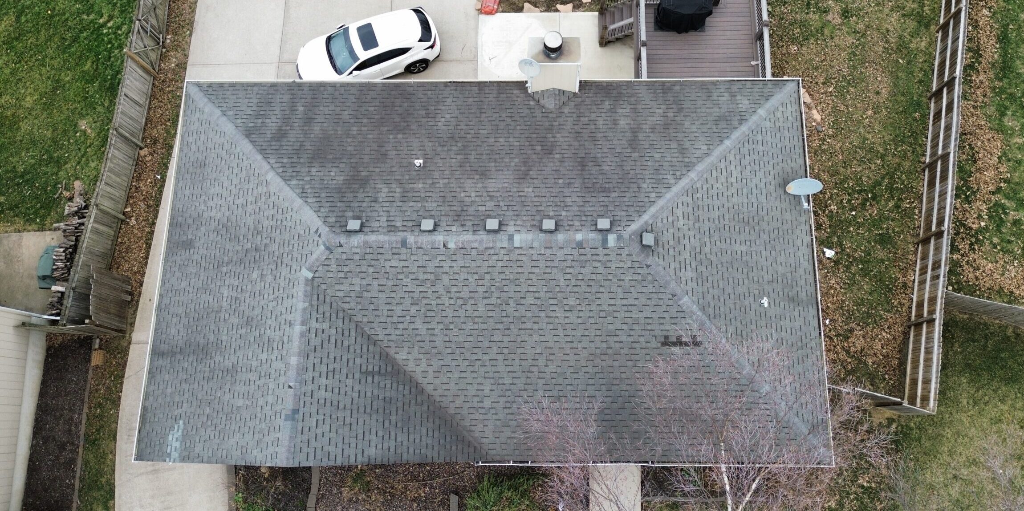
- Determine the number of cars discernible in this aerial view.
1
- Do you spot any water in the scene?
No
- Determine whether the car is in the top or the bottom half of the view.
top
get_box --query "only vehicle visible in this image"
[298,8,445,79]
